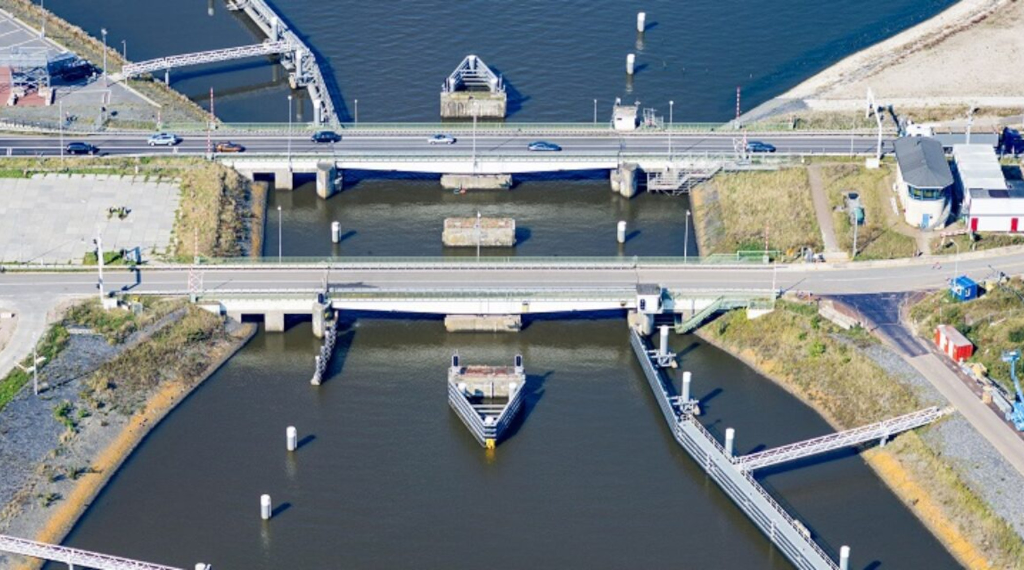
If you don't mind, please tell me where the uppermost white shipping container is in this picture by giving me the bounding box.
[931,321,972,361]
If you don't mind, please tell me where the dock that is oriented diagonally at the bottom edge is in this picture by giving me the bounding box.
[676,411,859,570]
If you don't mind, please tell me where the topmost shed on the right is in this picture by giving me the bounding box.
[610,87,645,126]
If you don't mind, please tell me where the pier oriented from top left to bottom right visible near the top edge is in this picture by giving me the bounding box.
[224,0,342,126]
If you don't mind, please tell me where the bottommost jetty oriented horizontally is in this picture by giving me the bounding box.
[448,366,525,396]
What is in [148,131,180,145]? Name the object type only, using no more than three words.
car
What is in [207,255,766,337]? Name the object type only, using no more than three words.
bridge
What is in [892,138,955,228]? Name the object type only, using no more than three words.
building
